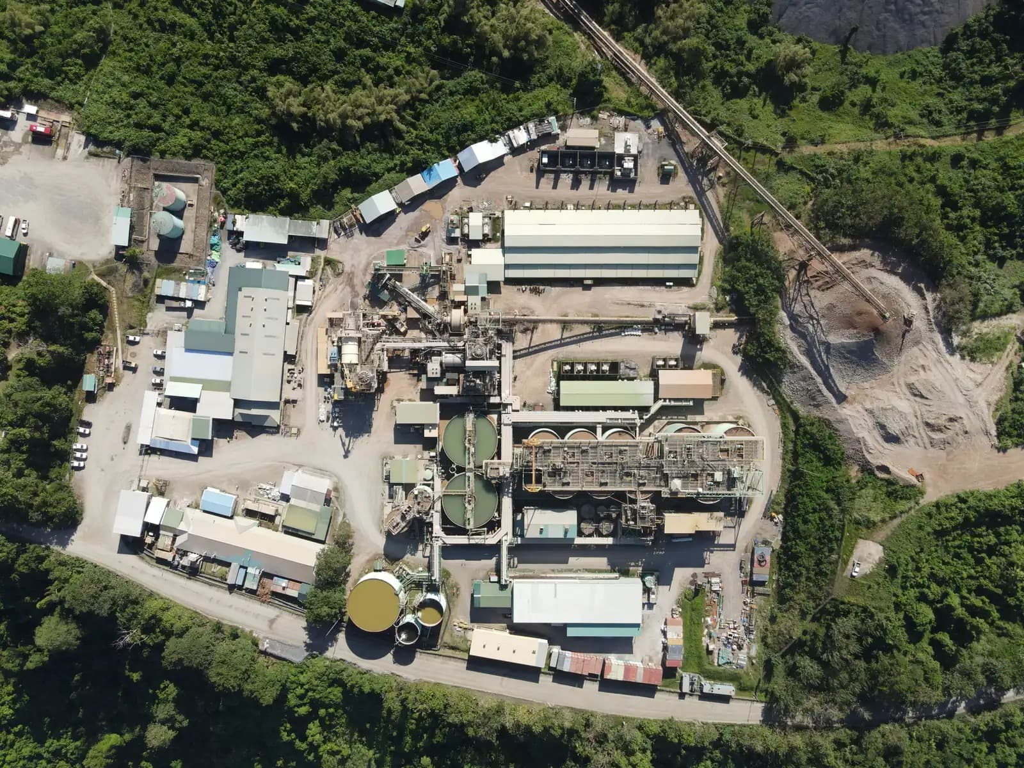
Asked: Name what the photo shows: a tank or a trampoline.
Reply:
tank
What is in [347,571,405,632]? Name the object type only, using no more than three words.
storage tank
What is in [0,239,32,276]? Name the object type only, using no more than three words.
building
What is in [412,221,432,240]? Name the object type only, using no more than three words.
work vehicle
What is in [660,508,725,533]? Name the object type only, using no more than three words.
house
